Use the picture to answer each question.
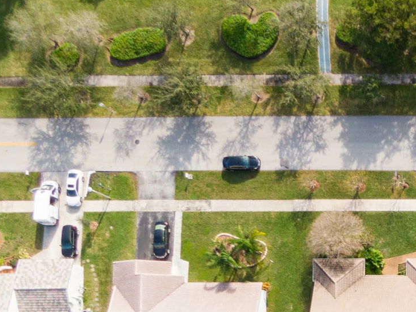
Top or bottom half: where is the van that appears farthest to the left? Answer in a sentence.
The bottom half of the photo is where the van that appears farthest to the left is.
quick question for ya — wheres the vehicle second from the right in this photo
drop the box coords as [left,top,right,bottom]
[152,221,171,259]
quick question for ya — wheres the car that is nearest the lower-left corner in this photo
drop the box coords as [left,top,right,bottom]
[59,224,79,257]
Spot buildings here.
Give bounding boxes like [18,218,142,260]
[107,258,269,312]
[0,258,86,312]
[310,258,416,312]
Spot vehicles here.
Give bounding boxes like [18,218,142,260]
[152,221,171,259]
[222,153,261,171]
[59,224,79,257]
[29,181,61,227]
[65,169,86,207]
